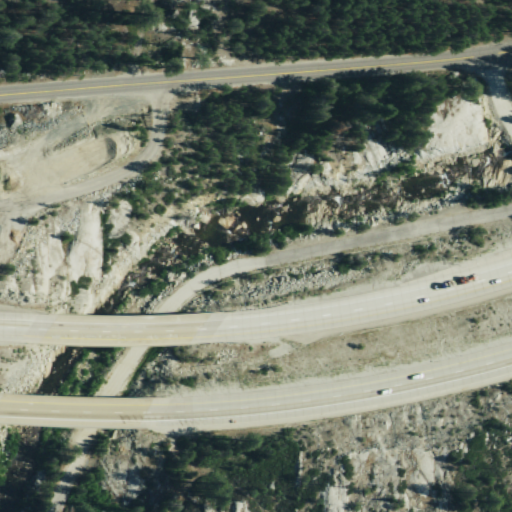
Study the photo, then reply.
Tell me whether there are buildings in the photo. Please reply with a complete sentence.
No, I can't see a single building in this photo.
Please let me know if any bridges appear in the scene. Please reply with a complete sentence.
Yes, this view includes a bridge.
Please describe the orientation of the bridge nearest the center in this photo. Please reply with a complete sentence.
Seen from above, the bridge nearest the center lies from side to side.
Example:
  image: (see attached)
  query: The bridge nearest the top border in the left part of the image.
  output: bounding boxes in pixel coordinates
[53,313,211,347]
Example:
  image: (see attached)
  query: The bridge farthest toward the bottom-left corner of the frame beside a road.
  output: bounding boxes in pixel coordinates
[8,394,152,428]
